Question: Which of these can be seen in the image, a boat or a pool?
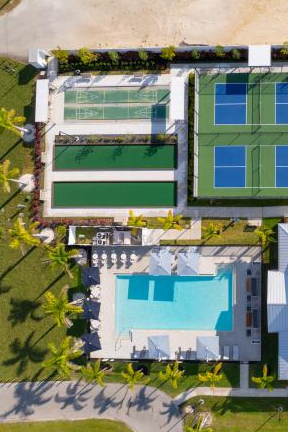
pool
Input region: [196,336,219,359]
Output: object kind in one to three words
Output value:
umbrella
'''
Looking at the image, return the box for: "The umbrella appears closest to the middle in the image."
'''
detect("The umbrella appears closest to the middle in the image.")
[148,250,173,275]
